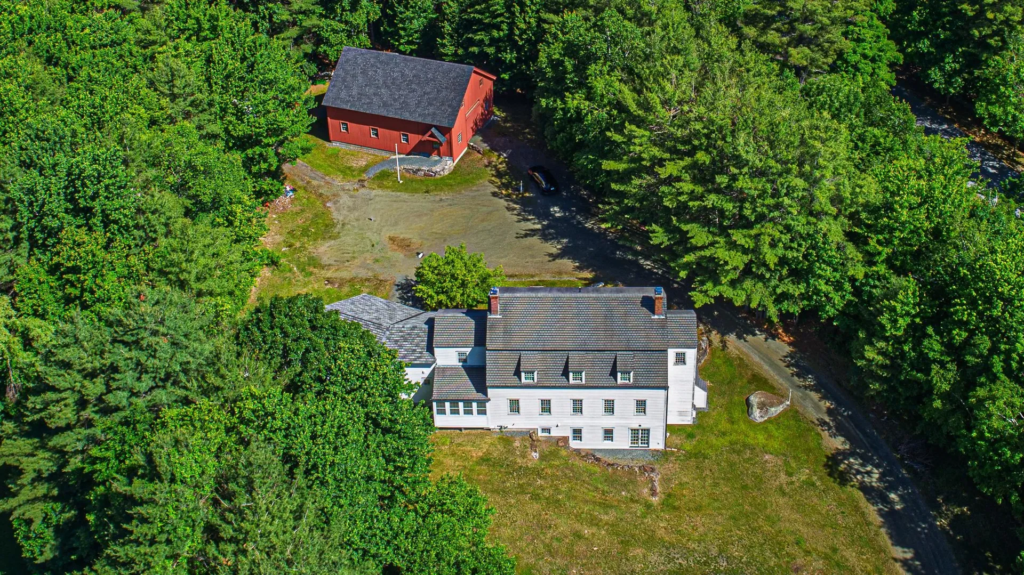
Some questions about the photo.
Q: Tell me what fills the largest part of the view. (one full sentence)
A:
The bulk of the photo consists of trees.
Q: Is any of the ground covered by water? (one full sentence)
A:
No, there is no water in the image.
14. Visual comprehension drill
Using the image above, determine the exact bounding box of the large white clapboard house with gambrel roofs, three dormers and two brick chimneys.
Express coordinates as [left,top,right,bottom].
[316,287,709,450]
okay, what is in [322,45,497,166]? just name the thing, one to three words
barn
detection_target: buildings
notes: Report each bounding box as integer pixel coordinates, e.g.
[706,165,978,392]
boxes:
[322,45,497,166]
[316,287,709,450]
